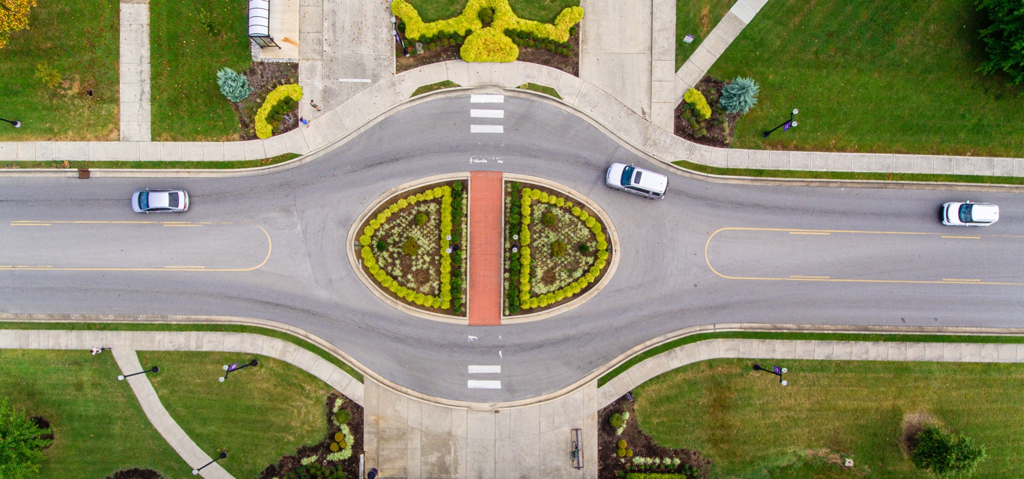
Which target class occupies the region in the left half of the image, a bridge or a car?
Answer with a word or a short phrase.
car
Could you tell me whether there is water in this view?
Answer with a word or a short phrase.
No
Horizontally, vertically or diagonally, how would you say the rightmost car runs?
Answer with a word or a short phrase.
horizontally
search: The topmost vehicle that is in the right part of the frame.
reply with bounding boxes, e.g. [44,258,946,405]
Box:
[607,165,666,201]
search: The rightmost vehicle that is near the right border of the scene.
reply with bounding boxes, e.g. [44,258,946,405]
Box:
[939,199,1000,227]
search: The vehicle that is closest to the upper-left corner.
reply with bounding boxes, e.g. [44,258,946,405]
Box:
[131,187,191,214]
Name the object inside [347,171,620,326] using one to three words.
roundabout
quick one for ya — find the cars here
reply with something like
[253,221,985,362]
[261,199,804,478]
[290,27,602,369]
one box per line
[131,187,191,214]
[939,199,1000,227]
[607,165,666,201]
